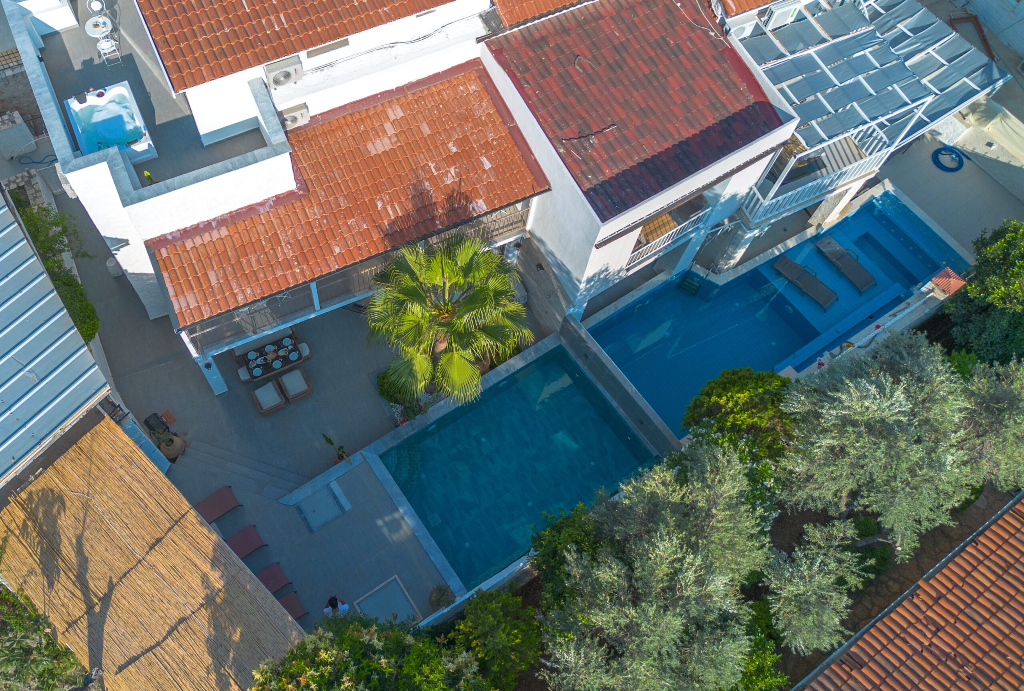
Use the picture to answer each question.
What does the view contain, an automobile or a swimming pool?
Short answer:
swimming pool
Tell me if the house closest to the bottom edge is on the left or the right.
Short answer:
right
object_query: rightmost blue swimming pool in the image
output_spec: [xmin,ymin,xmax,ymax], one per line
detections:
[579,178,978,473]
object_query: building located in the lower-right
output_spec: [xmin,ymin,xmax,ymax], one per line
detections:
[792,483,1024,691]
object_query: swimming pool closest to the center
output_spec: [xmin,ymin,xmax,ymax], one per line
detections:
[361,333,660,595]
